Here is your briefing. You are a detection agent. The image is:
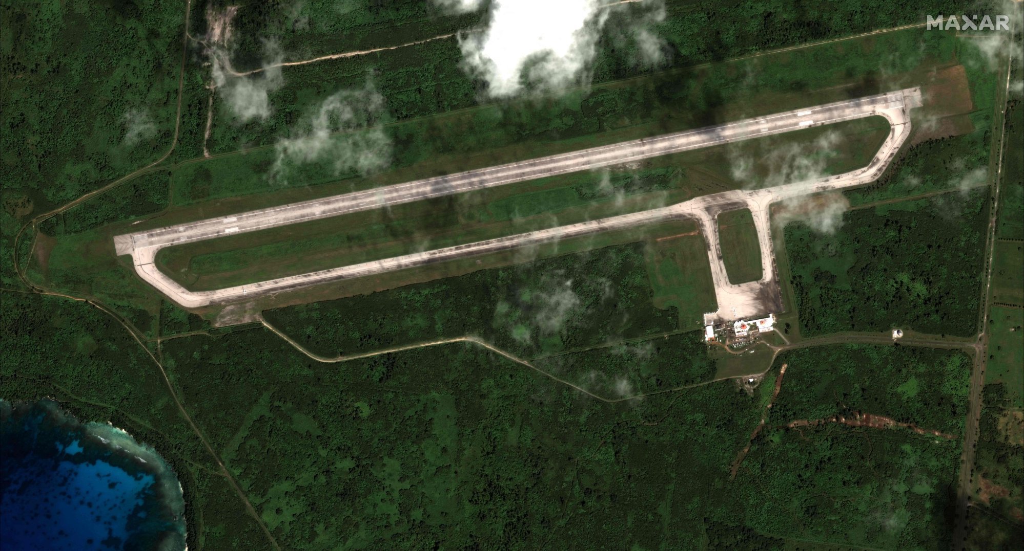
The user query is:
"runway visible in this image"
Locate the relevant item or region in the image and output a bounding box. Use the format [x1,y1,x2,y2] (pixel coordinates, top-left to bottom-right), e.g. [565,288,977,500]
[114,87,923,256]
